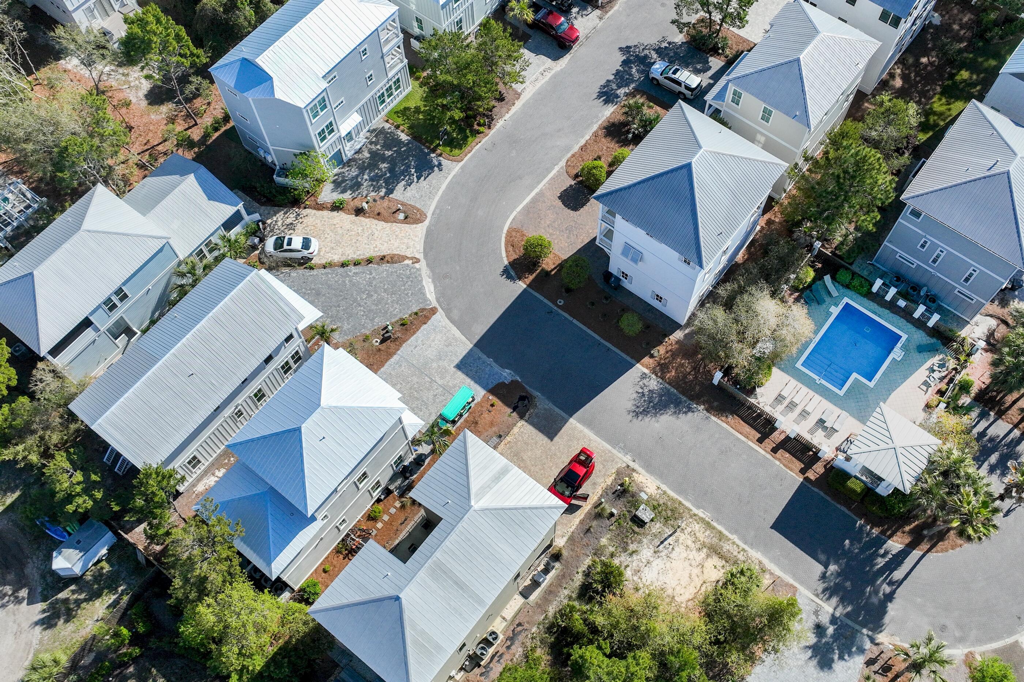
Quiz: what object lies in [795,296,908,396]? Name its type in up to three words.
swimming pool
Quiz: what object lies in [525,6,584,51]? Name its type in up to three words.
truck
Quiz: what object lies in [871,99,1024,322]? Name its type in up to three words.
house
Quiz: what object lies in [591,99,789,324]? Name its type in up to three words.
house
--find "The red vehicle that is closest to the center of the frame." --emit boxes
[548,444,597,506]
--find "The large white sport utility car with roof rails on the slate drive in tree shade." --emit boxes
[647,64,706,100]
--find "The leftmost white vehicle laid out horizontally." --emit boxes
[265,234,318,260]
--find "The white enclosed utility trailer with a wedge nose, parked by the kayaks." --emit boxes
[59,519,120,584]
